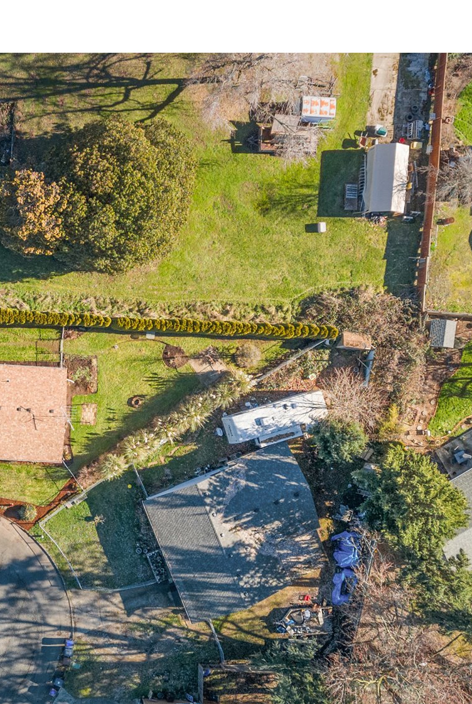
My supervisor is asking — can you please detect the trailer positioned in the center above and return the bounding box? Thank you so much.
[210,392,333,449]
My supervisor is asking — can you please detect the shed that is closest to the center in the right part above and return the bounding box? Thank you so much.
[332,332,372,350]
